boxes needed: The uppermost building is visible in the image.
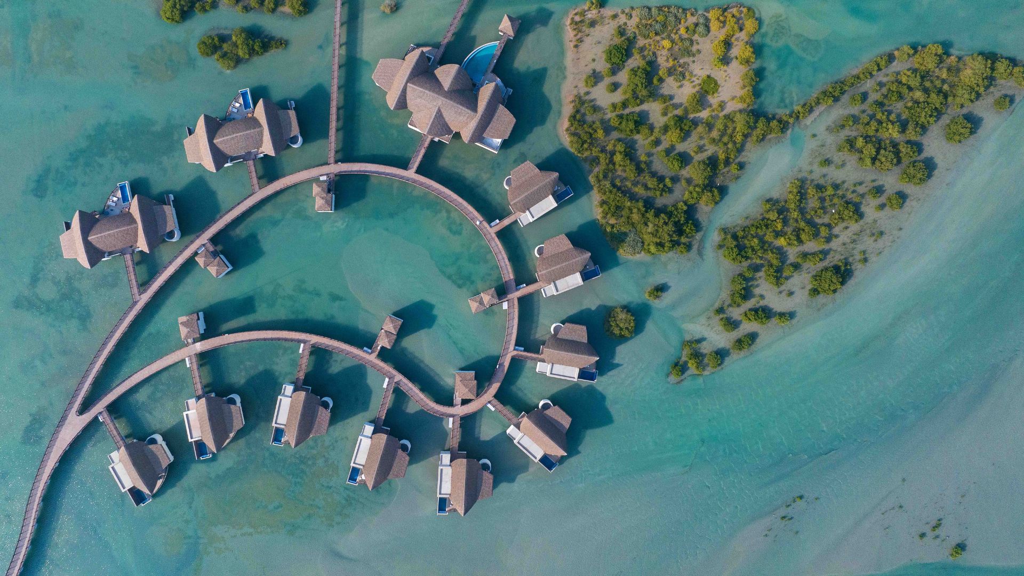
[499,14,521,42]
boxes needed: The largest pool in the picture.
[461,41,500,87]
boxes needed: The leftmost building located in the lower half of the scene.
[108,433,179,508]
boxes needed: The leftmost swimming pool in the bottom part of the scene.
[131,485,153,506]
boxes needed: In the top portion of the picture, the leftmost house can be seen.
[62,186,183,268]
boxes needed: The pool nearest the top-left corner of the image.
[118,182,134,205]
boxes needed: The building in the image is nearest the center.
[468,288,498,313]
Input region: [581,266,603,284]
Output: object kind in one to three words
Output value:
swimming pool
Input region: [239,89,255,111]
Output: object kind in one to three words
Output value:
swimming pool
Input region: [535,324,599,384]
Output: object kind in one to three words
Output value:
house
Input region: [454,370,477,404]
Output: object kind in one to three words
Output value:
building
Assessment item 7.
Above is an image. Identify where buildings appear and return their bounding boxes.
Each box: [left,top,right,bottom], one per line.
[534,236,604,299]
[178,312,207,341]
[437,448,493,515]
[504,164,577,229]
[378,314,404,349]
[270,380,334,447]
[372,35,516,155]
[535,324,599,384]
[313,182,336,212]
[62,186,183,268]
[108,433,179,508]
[185,391,249,459]
[454,370,477,404]
[195,249,235,278]
[185,92,304,172]
[468,288,498,313]
[346,420,412,489]
[506,400,571,475]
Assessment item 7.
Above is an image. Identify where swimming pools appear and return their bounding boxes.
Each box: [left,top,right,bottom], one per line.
[273,425,286,445]
[239,89,255,111]
[578,370,599,382]
[581,266,603,284]
[554,187,575,206]
[461,41,500,87]
[118,182,134,205]
[438,495,450,513]
[538,453,560,473]
[196,437,213,458]
[131,485,153,506]
[349,464,363,484]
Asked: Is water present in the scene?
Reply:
Yes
